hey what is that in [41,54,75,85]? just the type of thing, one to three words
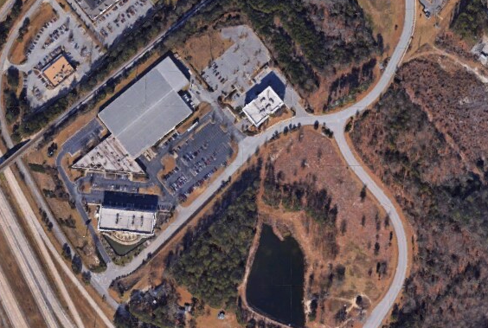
building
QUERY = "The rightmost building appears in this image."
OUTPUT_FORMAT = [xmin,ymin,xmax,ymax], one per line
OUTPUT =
[243,84,283,126]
